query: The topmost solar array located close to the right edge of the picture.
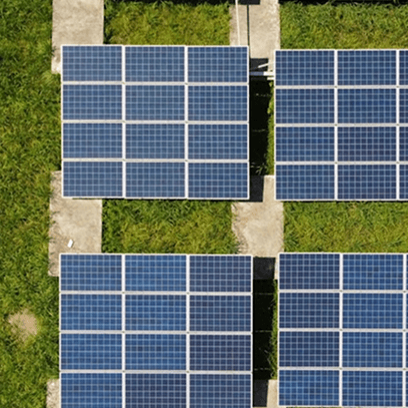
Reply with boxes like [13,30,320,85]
[273,49,408,201]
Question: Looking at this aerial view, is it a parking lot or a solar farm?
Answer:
solar farm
